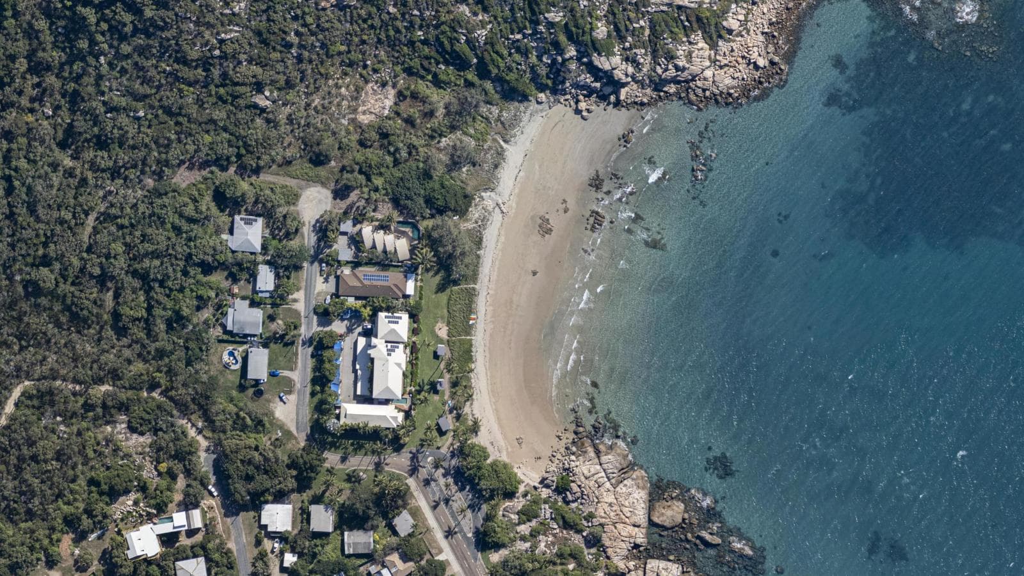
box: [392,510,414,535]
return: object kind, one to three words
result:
house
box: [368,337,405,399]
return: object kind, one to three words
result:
building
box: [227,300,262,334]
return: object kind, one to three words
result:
house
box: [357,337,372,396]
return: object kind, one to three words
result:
building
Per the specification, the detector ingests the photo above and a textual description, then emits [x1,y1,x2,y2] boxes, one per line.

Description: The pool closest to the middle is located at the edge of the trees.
[394,221,421,240]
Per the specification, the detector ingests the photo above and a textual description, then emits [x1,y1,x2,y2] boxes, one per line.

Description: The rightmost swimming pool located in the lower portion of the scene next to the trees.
[391,397,409,410]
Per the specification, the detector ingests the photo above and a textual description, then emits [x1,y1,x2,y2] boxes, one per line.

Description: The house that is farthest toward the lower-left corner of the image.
[126,524,160,557]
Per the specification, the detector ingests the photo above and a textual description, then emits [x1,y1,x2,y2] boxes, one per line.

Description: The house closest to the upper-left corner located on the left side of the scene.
[228,215,263,252]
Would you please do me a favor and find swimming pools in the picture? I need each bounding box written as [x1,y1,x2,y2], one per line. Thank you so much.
[156,516,173,525]
[394,221,421,240]
[391,397,409,410]
[222,347,242,369]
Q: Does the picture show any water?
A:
Yes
